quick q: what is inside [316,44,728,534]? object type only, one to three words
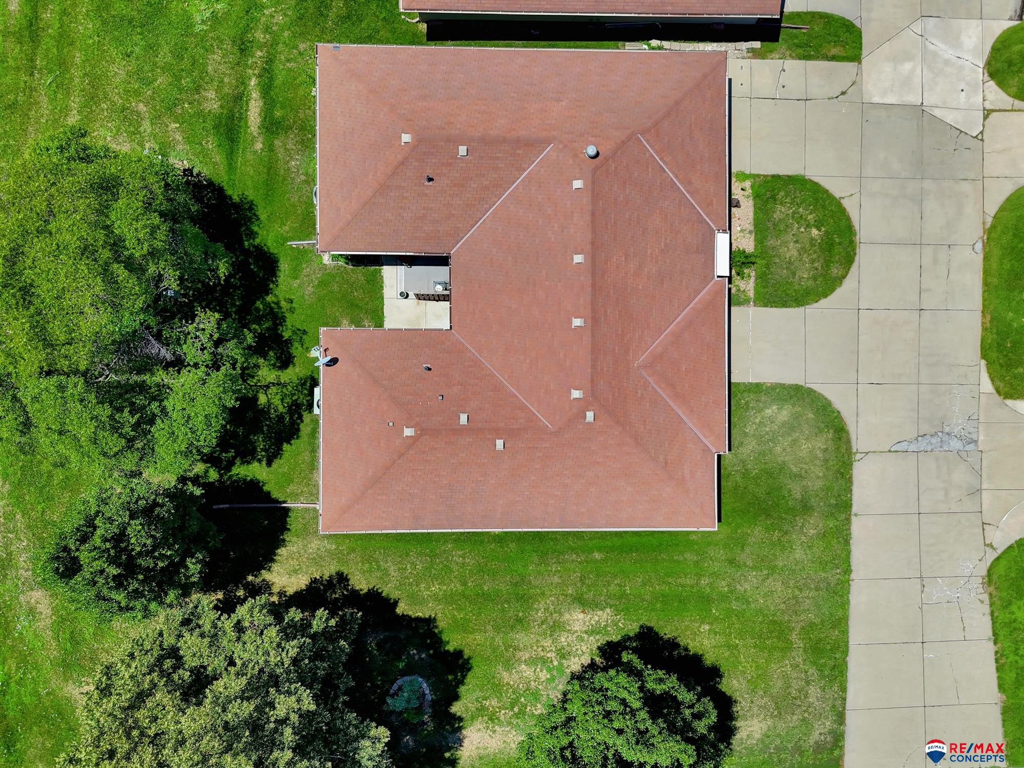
house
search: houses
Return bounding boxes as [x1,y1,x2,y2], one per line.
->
[316,44,728,534]
[399,0,781,26]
